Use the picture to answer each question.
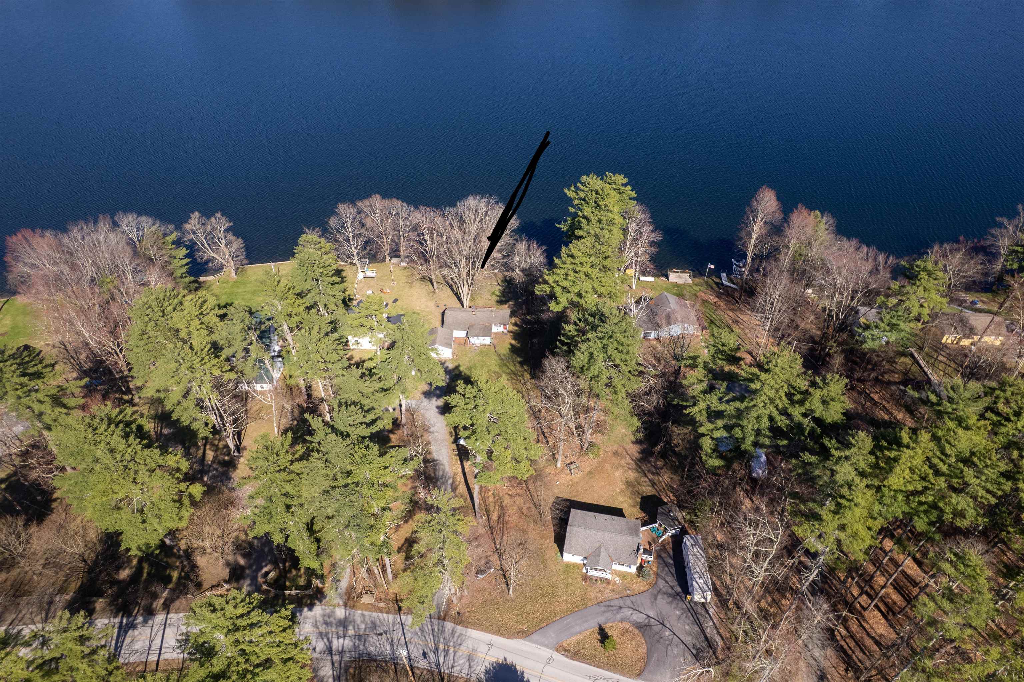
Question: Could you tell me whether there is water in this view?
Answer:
Yes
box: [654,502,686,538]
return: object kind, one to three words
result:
gazebo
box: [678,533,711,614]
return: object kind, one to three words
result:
trailer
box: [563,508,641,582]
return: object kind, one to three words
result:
house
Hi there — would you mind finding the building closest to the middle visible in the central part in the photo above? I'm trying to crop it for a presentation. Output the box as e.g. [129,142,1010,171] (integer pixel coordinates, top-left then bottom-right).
[429,301,510,358]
